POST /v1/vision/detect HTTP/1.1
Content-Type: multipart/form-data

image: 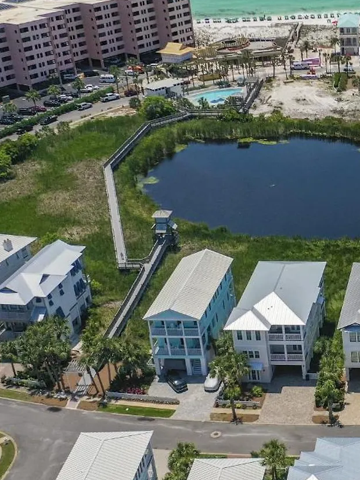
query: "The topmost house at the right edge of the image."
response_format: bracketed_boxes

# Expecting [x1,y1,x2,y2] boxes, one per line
[337,13,360,54]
